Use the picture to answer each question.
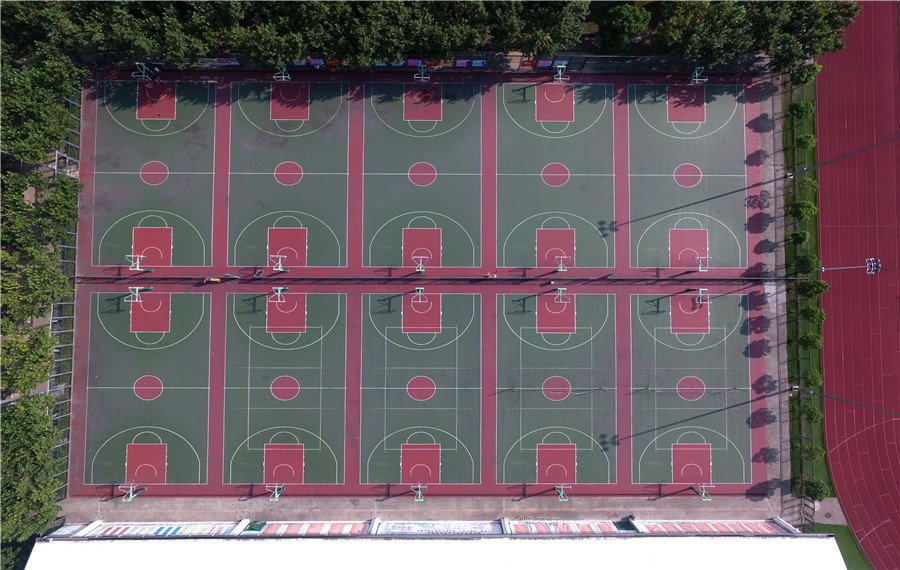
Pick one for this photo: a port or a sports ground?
sports ground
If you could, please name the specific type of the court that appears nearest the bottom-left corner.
basketball court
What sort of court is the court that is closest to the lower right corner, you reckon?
basketball court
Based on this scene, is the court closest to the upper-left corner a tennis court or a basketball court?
basketball court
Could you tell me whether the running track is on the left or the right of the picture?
right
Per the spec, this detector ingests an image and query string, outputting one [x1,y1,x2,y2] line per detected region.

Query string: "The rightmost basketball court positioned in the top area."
[627,84,748,268]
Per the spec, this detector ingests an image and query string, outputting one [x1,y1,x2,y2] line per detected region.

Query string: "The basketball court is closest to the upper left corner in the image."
[91,80,216,266]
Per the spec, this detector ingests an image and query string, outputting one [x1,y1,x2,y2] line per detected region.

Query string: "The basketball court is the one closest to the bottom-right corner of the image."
[630,294,752,484]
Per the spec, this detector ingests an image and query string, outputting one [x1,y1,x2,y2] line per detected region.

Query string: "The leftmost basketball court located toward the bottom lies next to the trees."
[84,292,212,484]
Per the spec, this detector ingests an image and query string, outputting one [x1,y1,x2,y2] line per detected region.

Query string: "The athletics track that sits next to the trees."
[814,0,900,570]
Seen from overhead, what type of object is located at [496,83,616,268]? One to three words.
basketball court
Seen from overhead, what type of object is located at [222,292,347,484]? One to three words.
basketball court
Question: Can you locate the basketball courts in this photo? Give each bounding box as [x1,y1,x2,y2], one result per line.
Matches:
[222,292,347,484]
[496,83,616,268]
[84,292,212,484]
[627,84,748,268]
[227,82,349,267]
[91,80,216,266]
[362,83,482,267]
[359,293,482,484]
[630,294,752,484]
[497,293,617,484]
